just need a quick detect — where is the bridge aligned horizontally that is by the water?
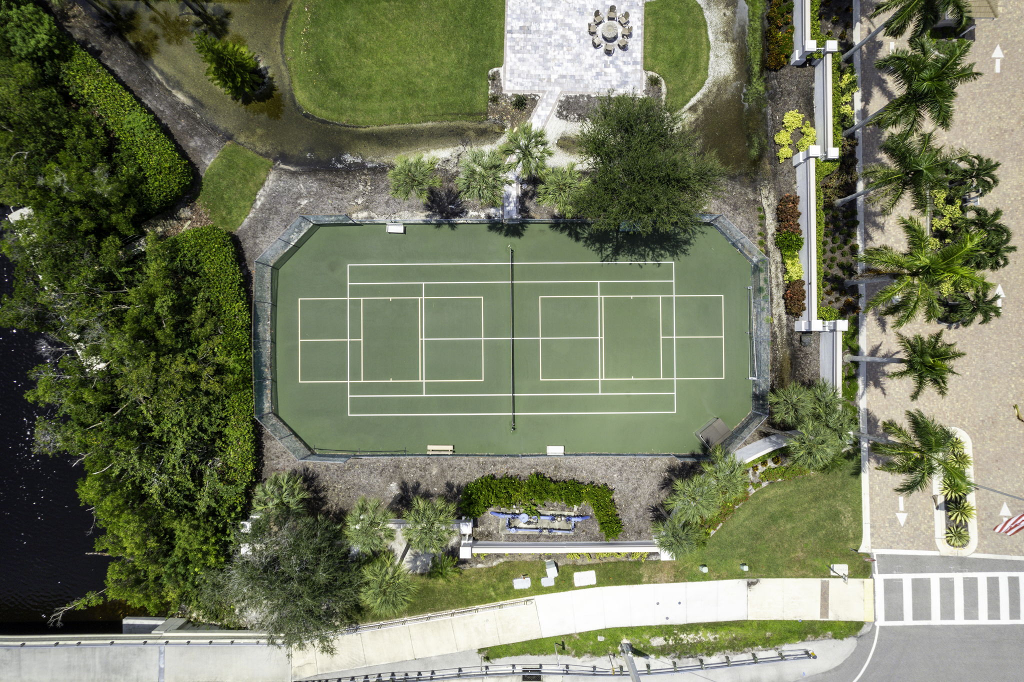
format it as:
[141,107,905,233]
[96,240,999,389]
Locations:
[0,612,291,682]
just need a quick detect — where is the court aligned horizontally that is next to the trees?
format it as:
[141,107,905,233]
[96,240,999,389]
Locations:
[272,224,752,453]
